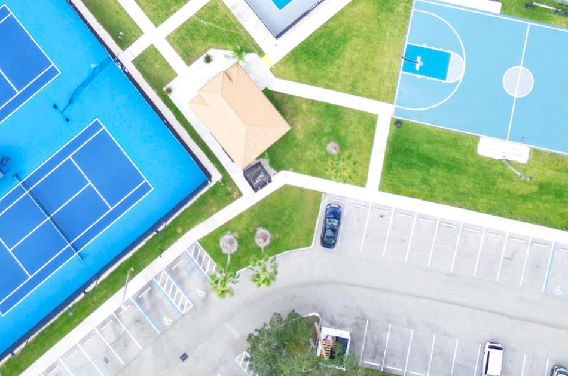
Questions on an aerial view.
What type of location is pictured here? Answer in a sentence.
What you see here is a sports ground.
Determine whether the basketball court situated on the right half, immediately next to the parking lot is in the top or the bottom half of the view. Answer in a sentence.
The basketball court situated on the right half, immediately next to the parking lot sits in the top half of the picture.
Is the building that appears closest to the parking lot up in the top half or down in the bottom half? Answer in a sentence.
It is in the top half that the building that appears closest to the parking lot appears.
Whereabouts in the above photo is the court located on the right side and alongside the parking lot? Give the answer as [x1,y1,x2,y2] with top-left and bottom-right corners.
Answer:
[392,0,568,156]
